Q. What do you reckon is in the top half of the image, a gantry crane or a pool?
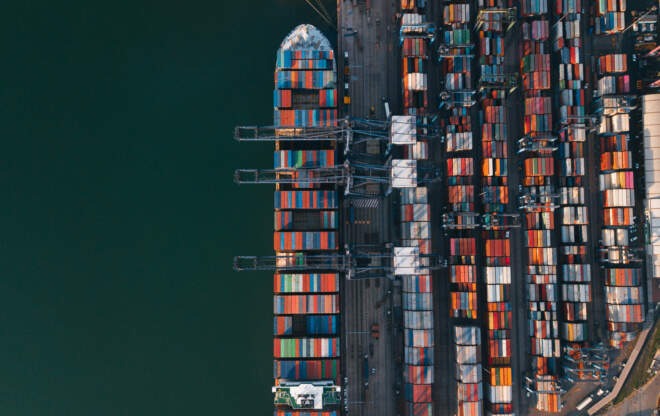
gantry crane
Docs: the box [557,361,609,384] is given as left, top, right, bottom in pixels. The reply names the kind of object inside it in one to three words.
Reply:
container crane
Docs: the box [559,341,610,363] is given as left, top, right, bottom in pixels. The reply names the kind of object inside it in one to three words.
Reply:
container crane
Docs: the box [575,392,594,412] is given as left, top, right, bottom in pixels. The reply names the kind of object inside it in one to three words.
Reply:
vehicle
